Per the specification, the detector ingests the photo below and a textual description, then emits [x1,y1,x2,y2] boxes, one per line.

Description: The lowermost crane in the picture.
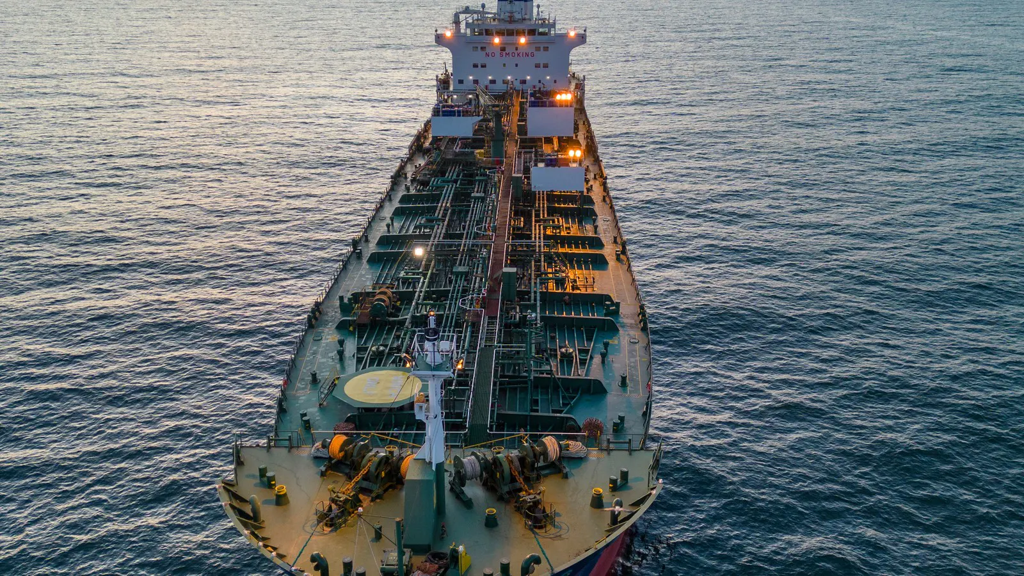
[476,83,508,162]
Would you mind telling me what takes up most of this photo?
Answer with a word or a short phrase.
water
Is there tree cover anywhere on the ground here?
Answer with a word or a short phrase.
No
